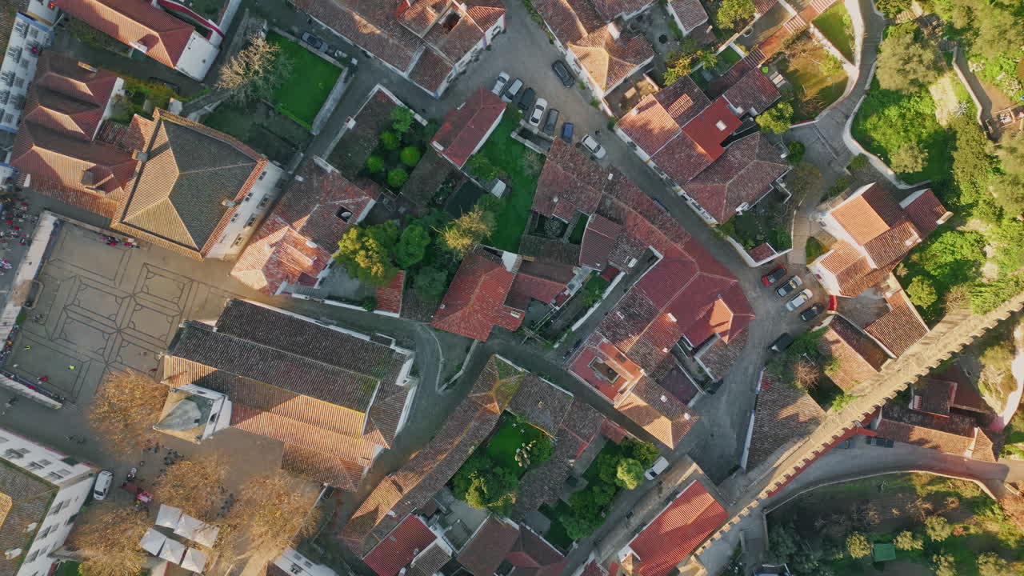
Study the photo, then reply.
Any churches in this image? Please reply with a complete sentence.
Yes, you can see a church in this photo.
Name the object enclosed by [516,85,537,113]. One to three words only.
car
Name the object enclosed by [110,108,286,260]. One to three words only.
building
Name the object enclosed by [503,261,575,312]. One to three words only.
house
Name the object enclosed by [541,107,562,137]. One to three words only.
car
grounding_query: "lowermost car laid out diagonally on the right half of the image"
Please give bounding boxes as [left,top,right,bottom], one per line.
[643,454,671,481]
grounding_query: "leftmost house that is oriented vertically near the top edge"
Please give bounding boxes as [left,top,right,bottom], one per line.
[0,10,51,132]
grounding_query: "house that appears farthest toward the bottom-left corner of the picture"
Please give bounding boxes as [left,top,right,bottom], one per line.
[0,419,92,576]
